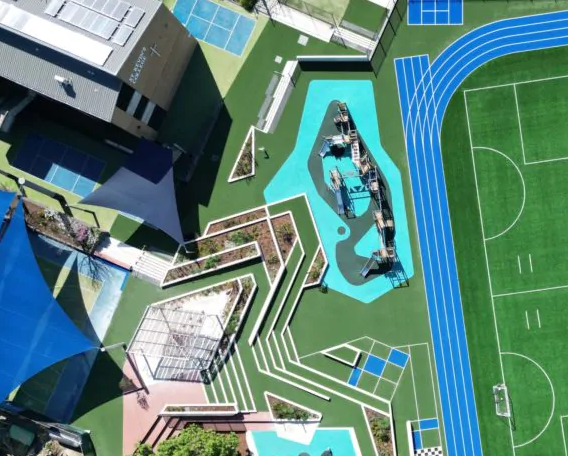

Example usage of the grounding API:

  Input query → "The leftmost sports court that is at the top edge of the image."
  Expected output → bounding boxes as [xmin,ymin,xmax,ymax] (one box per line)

[171,0,257,56]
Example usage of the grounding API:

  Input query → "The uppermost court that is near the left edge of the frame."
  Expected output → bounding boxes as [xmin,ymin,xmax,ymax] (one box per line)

[7,130,106,199]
